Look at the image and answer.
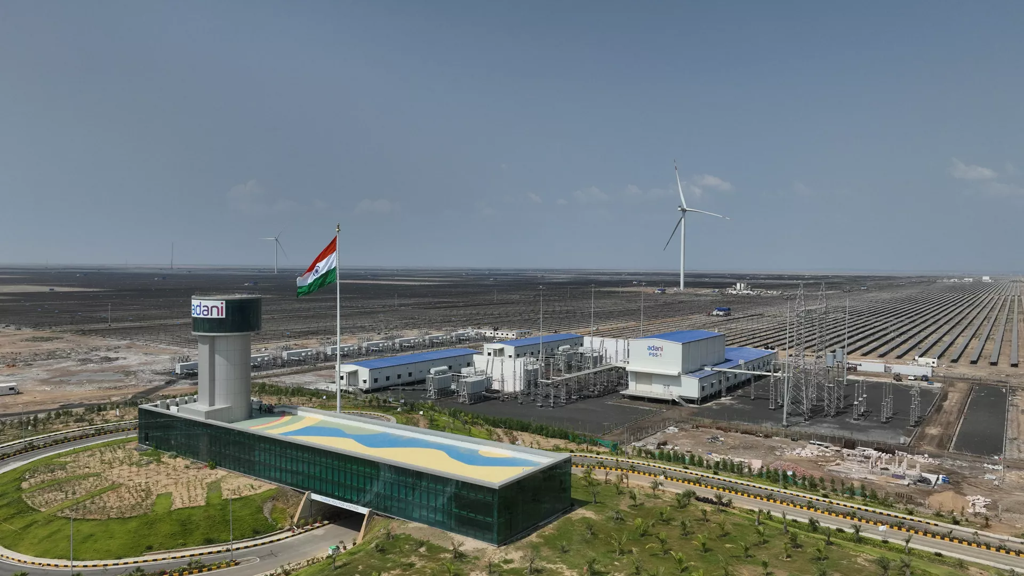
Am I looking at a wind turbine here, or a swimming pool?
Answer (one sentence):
It is a wind turbine that can be seen here.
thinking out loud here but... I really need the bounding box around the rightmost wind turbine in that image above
[662,162,729,291]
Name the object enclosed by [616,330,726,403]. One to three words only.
building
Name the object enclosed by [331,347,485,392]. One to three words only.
building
